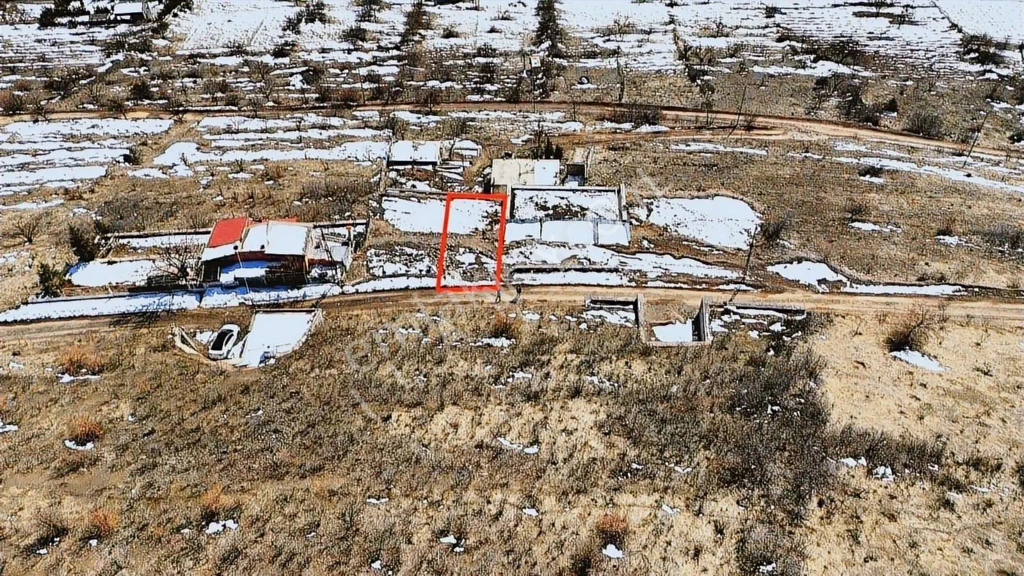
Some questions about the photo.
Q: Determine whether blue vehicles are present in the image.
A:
No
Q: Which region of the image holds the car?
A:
left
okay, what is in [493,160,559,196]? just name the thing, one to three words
building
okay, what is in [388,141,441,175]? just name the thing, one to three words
shed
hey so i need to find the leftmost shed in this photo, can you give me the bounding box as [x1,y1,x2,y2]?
[114,2,146,24]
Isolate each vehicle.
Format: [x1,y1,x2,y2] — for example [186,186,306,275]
[203,324,239,361]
